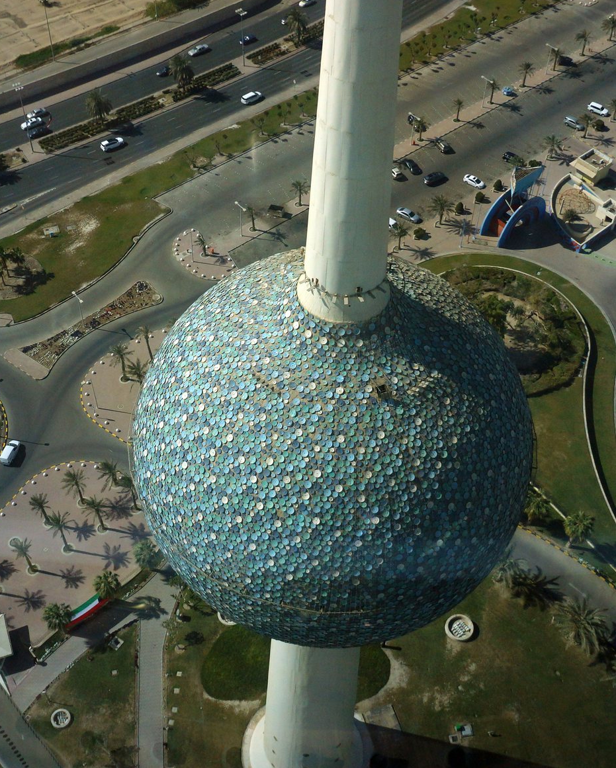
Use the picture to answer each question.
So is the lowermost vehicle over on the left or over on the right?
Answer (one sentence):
The lowermost vehicle is on the left side of the image.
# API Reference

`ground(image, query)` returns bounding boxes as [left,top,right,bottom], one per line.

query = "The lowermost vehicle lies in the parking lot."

[0,437,20,465]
